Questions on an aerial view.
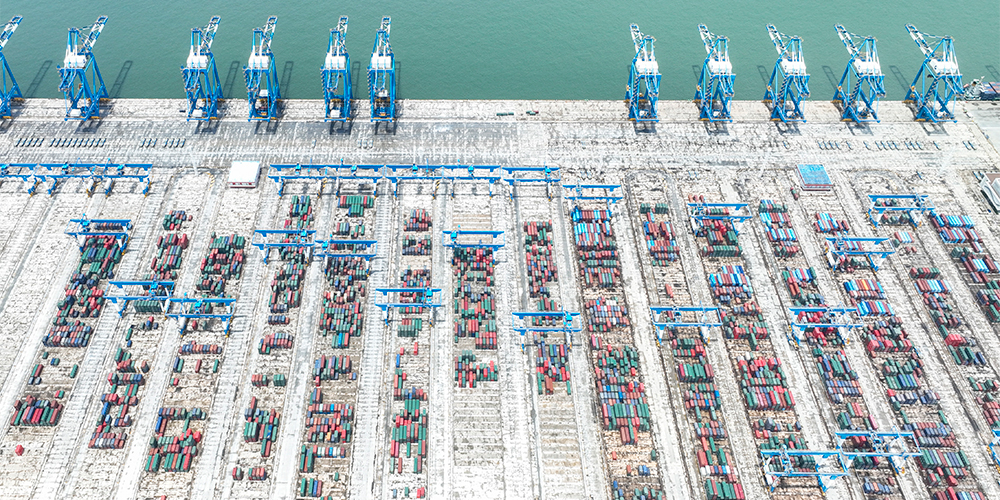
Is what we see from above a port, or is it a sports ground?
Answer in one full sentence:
This looks like a port.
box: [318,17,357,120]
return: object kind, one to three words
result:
container crane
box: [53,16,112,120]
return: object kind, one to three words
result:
container crane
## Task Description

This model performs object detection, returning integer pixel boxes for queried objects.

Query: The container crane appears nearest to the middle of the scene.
[442,225,504,267]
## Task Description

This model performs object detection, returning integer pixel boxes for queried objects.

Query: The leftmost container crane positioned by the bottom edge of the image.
[760,445,846,497]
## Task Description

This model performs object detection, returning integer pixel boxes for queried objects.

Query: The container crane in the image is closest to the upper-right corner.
[902,25,967,121]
